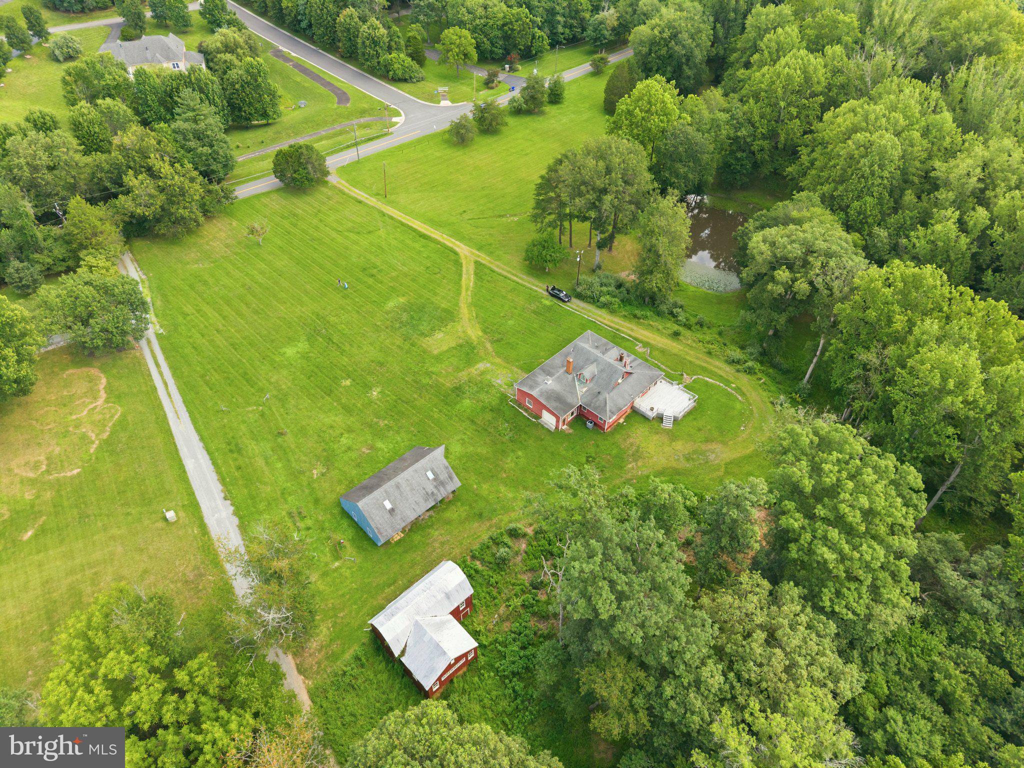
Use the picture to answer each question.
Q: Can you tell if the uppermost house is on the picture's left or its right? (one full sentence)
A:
The uppermost house is on the left side of the image.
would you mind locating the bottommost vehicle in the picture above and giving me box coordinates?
[544,282,574,306]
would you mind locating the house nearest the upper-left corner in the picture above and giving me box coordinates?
[102,33,209,80]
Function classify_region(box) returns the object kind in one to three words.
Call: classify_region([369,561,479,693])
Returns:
barn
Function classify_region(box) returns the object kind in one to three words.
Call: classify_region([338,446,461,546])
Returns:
barn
